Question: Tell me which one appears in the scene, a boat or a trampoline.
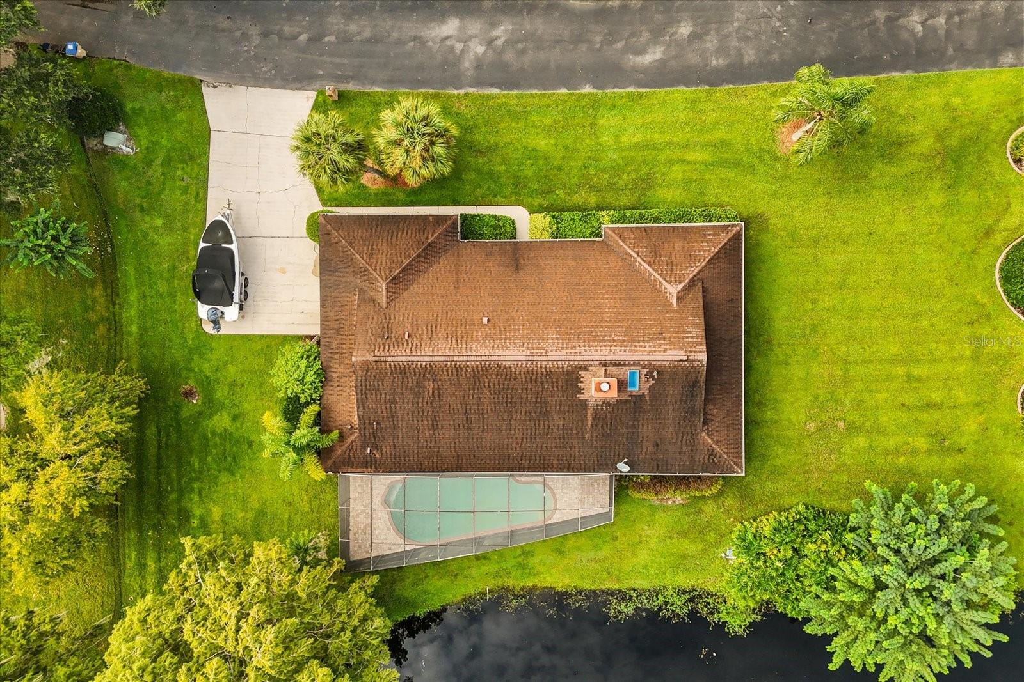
boat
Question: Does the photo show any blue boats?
No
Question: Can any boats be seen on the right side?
No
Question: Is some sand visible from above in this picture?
No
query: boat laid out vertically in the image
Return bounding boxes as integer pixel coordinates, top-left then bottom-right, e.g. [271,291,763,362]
[191,214,246,333]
